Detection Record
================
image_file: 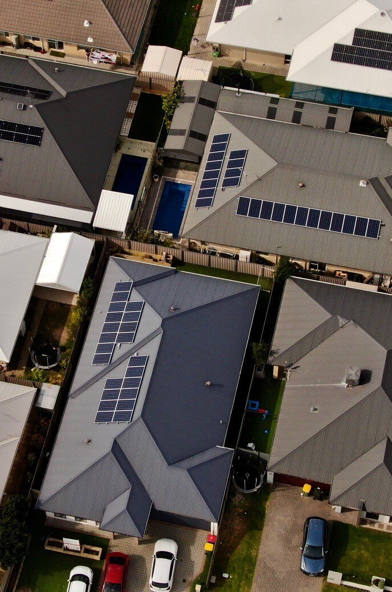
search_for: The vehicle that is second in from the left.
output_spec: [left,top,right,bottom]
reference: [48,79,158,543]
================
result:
[97,550,130,592]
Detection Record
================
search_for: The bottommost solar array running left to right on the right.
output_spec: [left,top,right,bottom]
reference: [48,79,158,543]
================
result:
[237,197,381,239]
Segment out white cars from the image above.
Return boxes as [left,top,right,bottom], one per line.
[149,538,180,592]
[63,564,93,592]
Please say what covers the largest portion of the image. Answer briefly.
buildings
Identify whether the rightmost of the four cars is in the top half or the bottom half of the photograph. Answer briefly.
bottom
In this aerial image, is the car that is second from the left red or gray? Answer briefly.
red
